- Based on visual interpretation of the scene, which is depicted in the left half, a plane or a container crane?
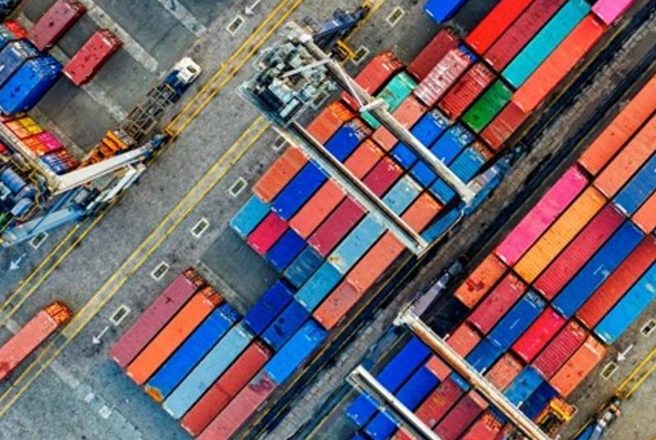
container crane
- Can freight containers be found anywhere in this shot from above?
Yes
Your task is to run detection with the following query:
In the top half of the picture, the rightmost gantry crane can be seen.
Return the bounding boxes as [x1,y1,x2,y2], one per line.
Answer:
[235,0,530,260]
